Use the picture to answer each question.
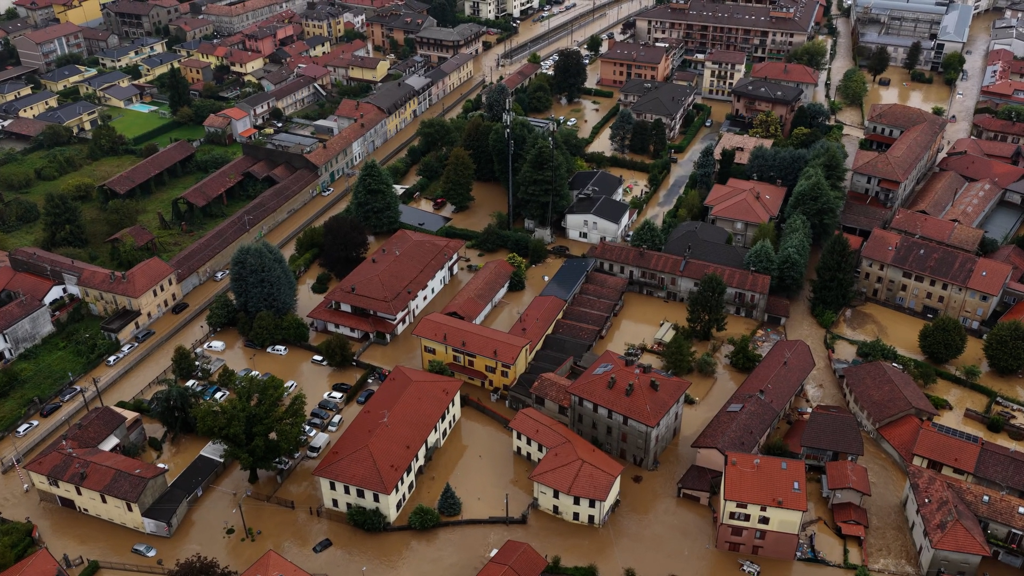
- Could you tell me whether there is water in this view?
Yes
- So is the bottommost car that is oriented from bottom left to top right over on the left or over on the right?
left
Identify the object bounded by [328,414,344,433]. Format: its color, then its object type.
white car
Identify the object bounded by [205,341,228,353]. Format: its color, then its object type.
white vehicle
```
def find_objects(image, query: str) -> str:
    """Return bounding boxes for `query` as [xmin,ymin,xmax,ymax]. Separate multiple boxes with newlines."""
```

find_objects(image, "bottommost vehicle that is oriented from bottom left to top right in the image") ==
[309,536,336,559]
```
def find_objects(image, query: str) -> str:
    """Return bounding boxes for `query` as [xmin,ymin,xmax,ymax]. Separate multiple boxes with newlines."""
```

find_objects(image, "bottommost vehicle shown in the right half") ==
[732,556,760,576]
